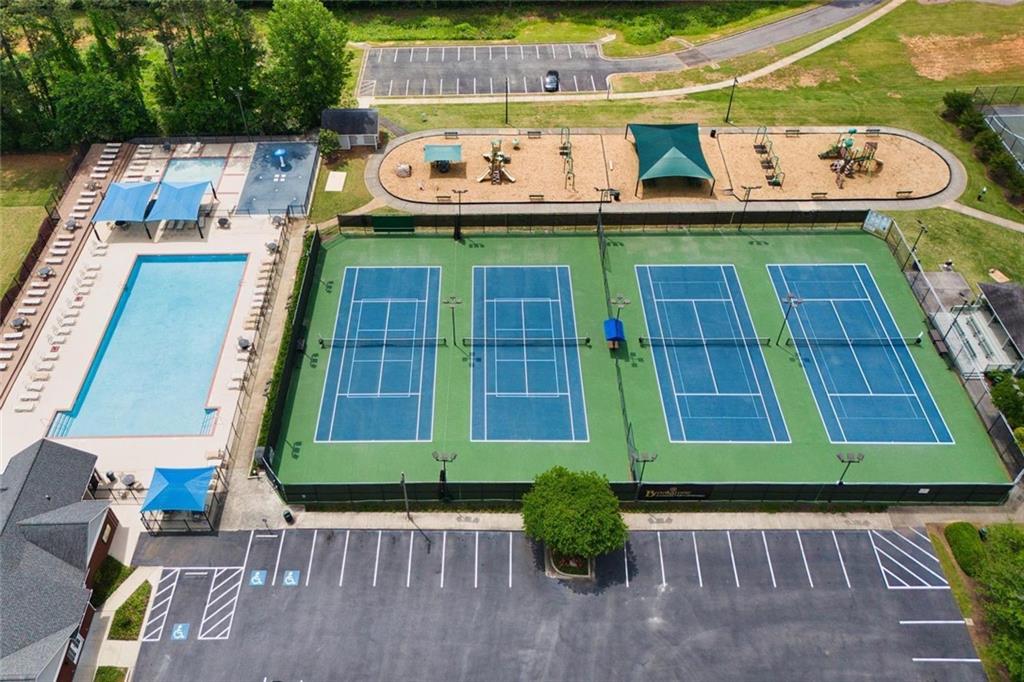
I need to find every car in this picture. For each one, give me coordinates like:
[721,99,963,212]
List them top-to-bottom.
[545,70,560,90]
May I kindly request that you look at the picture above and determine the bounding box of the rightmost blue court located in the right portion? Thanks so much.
[766,264,955,443]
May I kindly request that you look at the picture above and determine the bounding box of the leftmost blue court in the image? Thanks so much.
[314,266,442,442]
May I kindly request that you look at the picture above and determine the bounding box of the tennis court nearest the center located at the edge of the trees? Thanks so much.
[470,265,589,442]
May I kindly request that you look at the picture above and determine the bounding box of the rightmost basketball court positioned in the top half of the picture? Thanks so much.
[976,105,1024,166]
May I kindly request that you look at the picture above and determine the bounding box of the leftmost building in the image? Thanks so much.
[0,438,120,682]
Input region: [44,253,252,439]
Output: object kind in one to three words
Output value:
swimming pool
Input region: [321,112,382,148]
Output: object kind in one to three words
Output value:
shed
